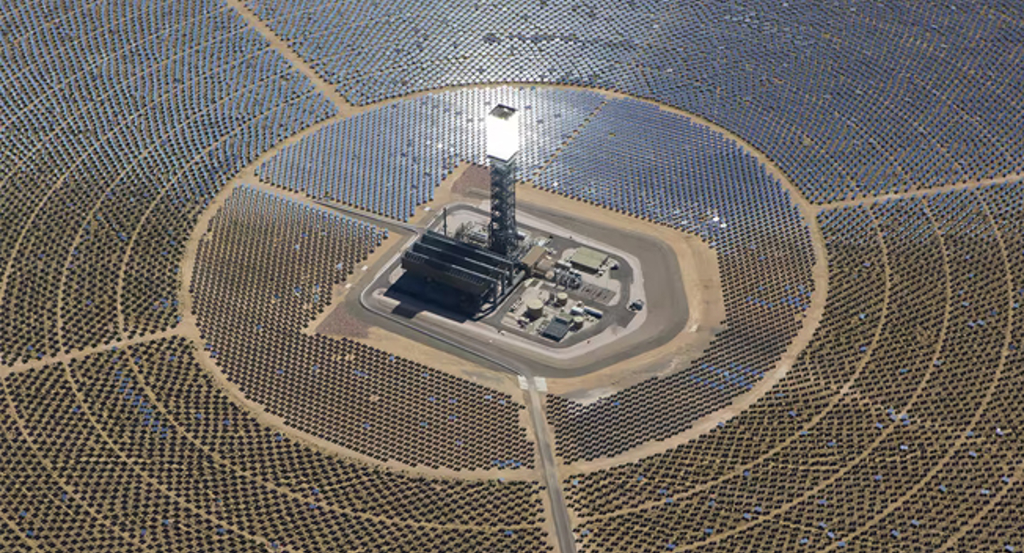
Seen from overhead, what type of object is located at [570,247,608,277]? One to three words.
building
